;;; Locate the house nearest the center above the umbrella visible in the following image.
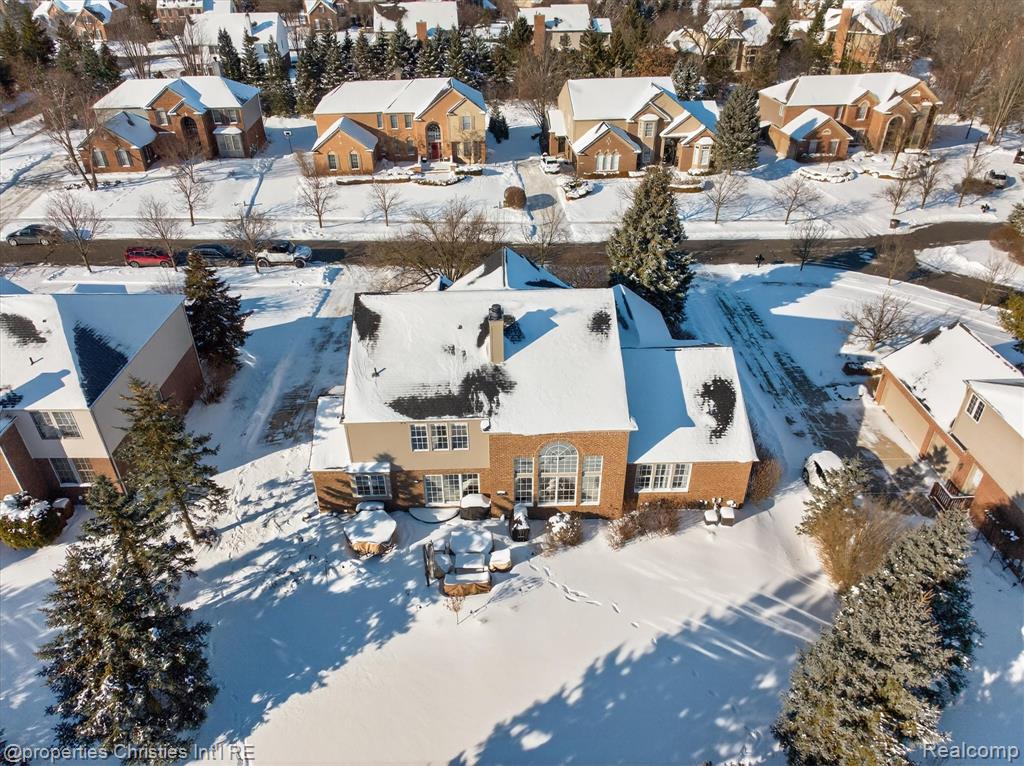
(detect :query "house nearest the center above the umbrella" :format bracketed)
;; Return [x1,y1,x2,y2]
[303,247,759,520]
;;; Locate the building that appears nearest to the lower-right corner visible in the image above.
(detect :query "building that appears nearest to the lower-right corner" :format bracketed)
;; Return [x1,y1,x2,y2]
[876,313,1024,549]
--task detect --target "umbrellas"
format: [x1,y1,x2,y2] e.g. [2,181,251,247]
[420,546,439,583]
